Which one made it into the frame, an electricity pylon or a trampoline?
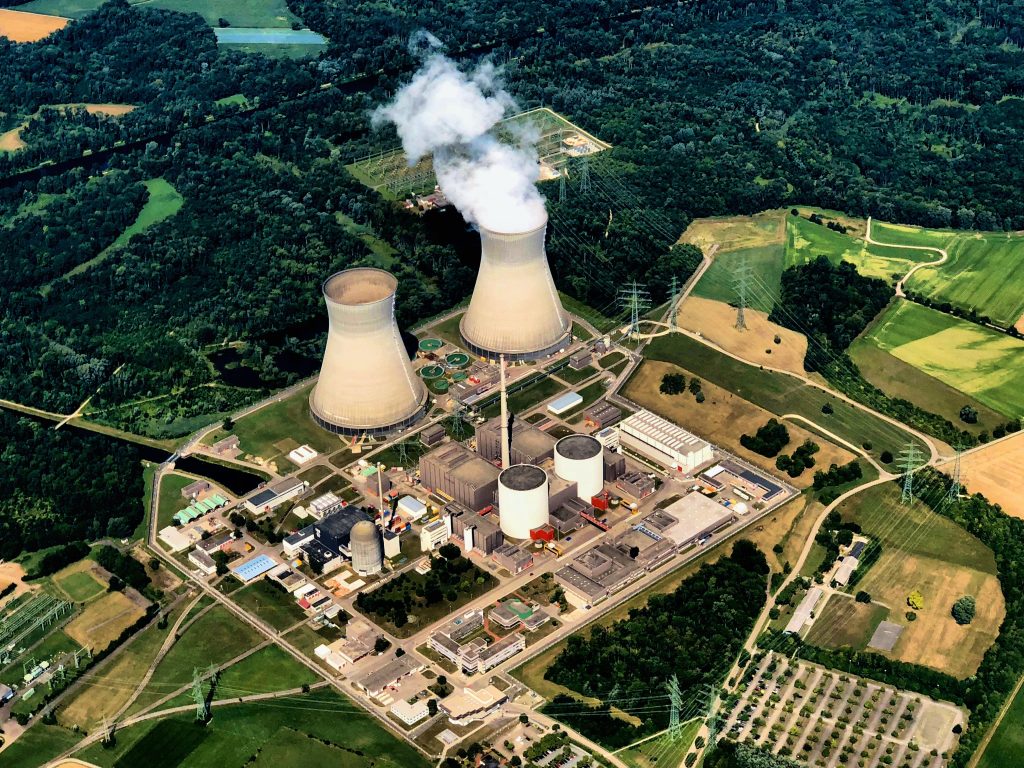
electricity pylon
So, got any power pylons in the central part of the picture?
Yes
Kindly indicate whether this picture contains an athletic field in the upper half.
No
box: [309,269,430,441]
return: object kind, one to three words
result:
cooling tower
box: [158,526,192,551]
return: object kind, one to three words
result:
building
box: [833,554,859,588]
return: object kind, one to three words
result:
barn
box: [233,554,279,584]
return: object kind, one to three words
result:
shed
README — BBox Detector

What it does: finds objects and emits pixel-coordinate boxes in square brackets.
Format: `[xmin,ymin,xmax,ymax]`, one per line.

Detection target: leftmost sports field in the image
[58,569,104,600]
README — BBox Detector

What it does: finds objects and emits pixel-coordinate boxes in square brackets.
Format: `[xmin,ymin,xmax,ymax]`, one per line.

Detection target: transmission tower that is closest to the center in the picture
[447,402,469,444]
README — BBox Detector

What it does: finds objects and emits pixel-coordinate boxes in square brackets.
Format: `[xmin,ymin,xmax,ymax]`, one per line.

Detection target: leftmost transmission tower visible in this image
[97,703,115,749]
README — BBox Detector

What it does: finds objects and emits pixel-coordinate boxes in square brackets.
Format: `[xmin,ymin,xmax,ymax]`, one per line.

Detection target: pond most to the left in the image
[205,346,269,389]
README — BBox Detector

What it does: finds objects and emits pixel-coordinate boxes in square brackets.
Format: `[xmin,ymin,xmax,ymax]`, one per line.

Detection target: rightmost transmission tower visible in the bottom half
[946,445,974,504]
